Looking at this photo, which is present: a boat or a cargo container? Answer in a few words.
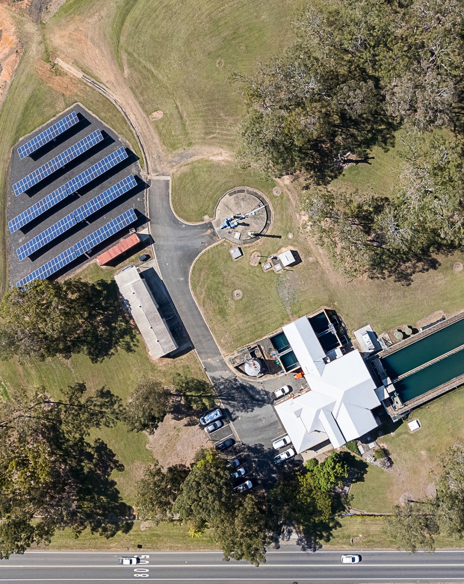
cargo container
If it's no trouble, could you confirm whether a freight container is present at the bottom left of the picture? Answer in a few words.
No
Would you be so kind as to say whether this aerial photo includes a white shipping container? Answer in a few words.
No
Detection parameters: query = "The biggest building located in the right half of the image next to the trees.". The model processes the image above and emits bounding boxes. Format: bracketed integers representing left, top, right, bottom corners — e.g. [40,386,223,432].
[275,316,381,454]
